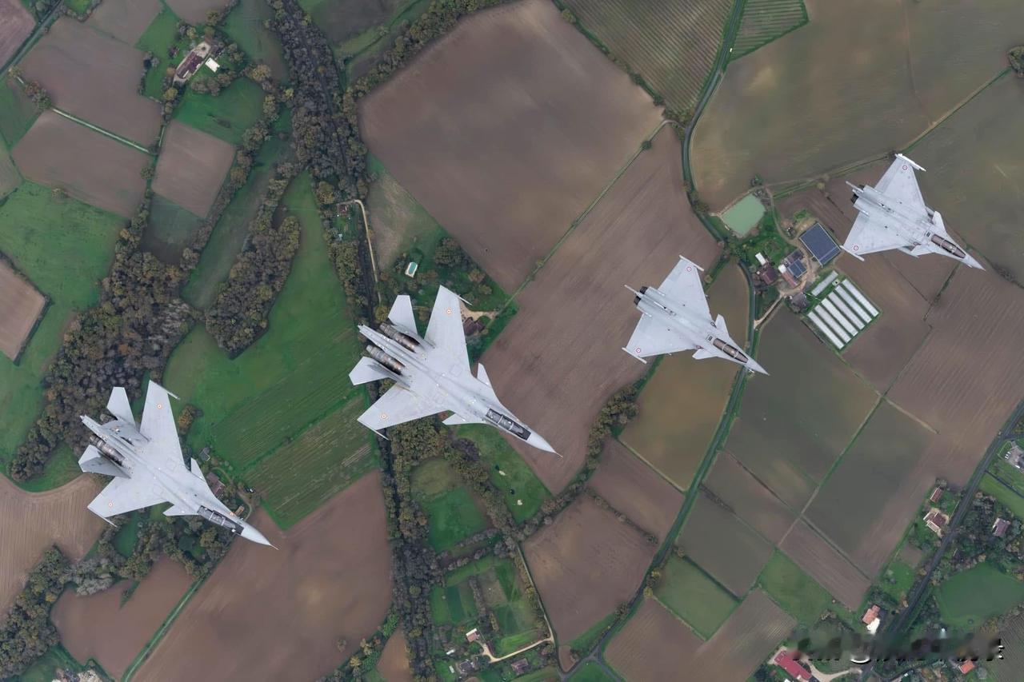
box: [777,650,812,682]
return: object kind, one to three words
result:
building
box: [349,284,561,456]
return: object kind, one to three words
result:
airplane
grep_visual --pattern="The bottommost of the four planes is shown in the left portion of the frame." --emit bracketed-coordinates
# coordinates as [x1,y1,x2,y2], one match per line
[74,378,278,549]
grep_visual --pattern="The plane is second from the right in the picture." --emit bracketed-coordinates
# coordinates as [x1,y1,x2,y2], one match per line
[621,255,769,376]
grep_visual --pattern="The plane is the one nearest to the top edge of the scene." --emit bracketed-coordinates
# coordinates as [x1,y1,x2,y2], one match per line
[836,151,984,270]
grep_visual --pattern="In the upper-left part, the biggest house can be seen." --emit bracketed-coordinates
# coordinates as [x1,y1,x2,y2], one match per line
[176,49,201,76]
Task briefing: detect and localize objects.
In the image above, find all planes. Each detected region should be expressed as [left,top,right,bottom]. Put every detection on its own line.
[621,255,769,376]
[836,151,984,270]
[349,284,561,456]
[74,378,278,549]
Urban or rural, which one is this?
rural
